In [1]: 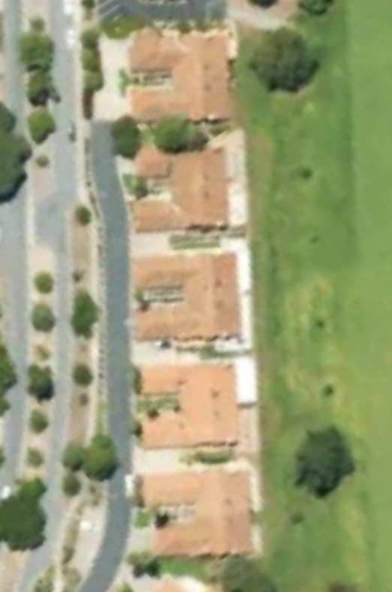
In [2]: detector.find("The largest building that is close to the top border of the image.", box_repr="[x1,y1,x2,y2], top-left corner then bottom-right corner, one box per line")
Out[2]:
[128,28,230,121]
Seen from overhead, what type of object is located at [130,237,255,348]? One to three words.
house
